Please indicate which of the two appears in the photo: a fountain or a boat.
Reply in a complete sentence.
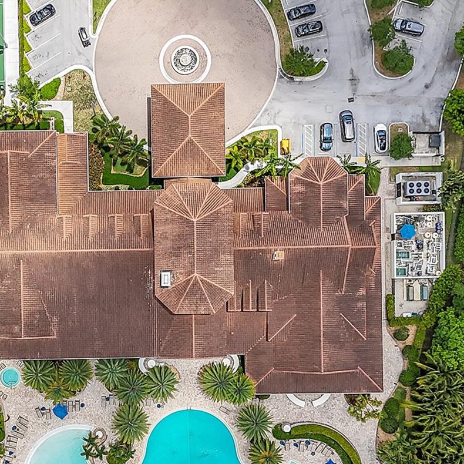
It is a fountain that can be seen here.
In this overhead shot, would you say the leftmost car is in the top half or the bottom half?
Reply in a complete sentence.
You can find the leftmost car in the top half.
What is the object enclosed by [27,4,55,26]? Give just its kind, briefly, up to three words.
car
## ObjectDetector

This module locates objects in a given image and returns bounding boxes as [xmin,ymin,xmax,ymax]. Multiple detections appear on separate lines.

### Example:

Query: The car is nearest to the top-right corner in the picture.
[395,16,428,35]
